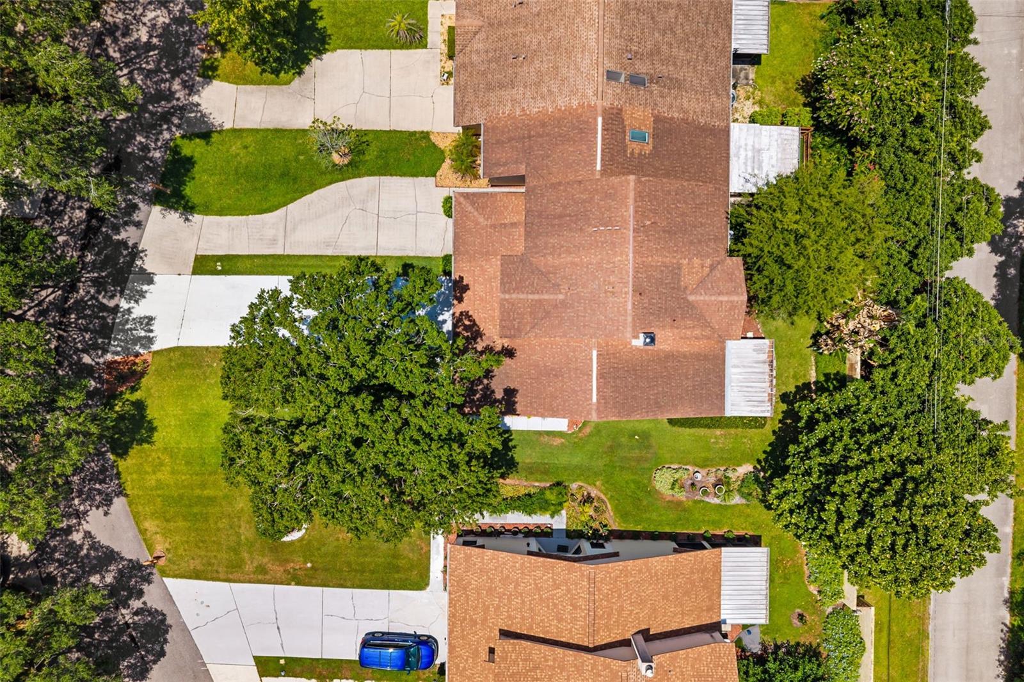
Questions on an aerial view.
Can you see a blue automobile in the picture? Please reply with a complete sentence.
Yes, looking at the shot, I can spot a blue automobile.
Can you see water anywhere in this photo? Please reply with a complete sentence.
No, the scene doesn't show any water.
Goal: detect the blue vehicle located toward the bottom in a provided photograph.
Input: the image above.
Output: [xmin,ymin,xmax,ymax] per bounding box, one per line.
[357,630,439,676]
